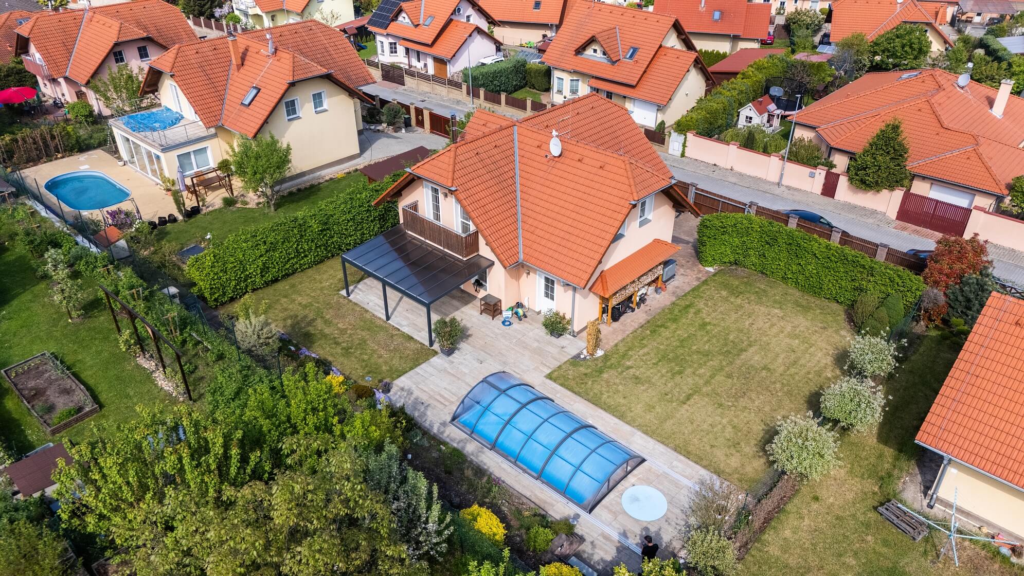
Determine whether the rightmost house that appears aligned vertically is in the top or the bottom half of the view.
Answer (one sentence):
The rightmost house that appears aligned vertically sits in the bottom half of the picture.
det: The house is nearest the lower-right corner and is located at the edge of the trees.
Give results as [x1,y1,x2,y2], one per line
[912,288,1024,544]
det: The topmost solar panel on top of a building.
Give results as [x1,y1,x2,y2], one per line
[355,0,399,25]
